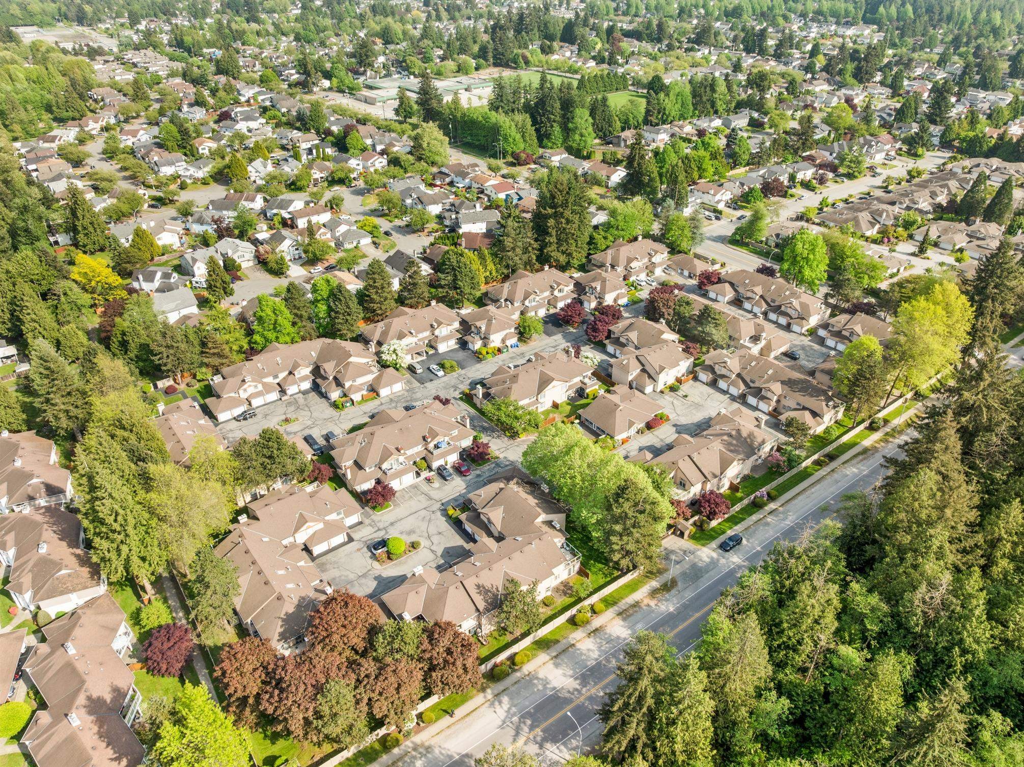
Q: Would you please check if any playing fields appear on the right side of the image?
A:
No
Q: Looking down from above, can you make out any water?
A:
No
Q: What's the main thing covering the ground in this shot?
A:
trees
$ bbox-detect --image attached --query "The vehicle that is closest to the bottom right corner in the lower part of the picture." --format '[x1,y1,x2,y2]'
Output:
[718,530,745,553]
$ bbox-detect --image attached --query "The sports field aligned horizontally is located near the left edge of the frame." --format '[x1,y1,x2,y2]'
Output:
[19,26,114,52]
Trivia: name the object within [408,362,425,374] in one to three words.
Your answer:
vehicle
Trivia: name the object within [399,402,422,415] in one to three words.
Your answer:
vehicle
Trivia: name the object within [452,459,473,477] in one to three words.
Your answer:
car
